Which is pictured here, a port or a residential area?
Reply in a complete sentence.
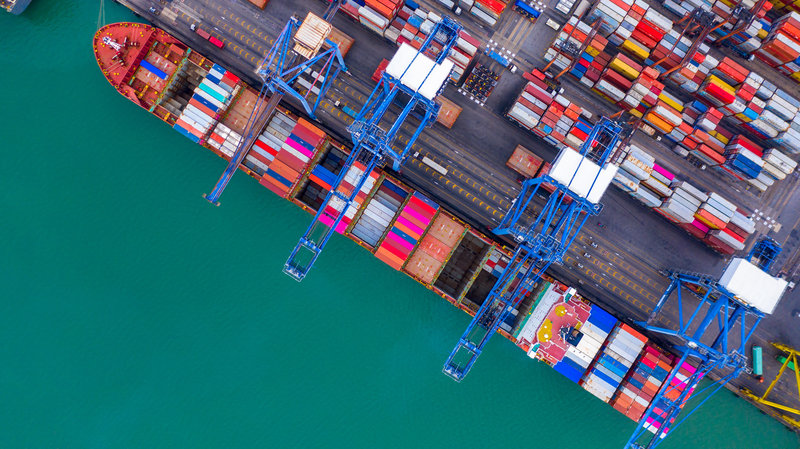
It's a port.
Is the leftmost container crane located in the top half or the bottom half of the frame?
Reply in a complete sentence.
The leftmost container crane is in the top half of the image.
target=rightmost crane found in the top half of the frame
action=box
[708,0,766,40]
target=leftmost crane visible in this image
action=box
[200,0,357,204]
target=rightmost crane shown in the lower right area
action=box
[736,337,800,425]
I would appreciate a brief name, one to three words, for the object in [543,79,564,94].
vehicle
